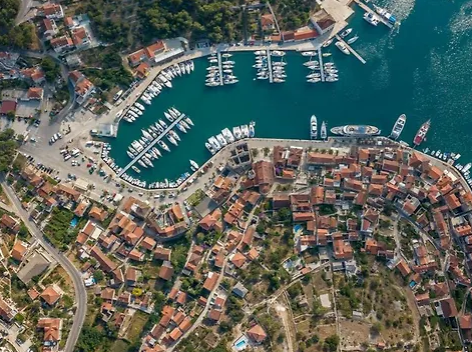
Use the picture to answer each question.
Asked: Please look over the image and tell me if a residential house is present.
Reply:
Yes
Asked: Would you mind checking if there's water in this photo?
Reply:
Yes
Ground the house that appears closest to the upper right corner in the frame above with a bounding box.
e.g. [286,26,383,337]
[313,10,334,33]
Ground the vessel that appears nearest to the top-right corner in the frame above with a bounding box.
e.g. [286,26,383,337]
[377,5,395,22]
